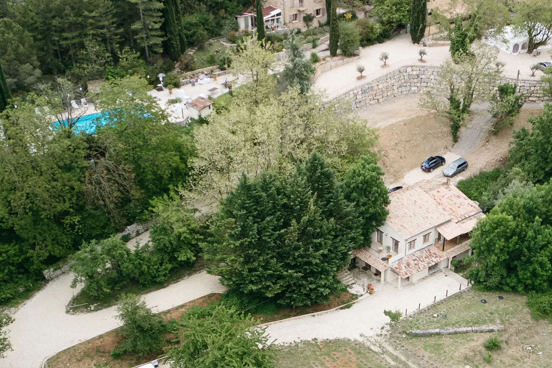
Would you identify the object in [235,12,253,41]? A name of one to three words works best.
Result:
shed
